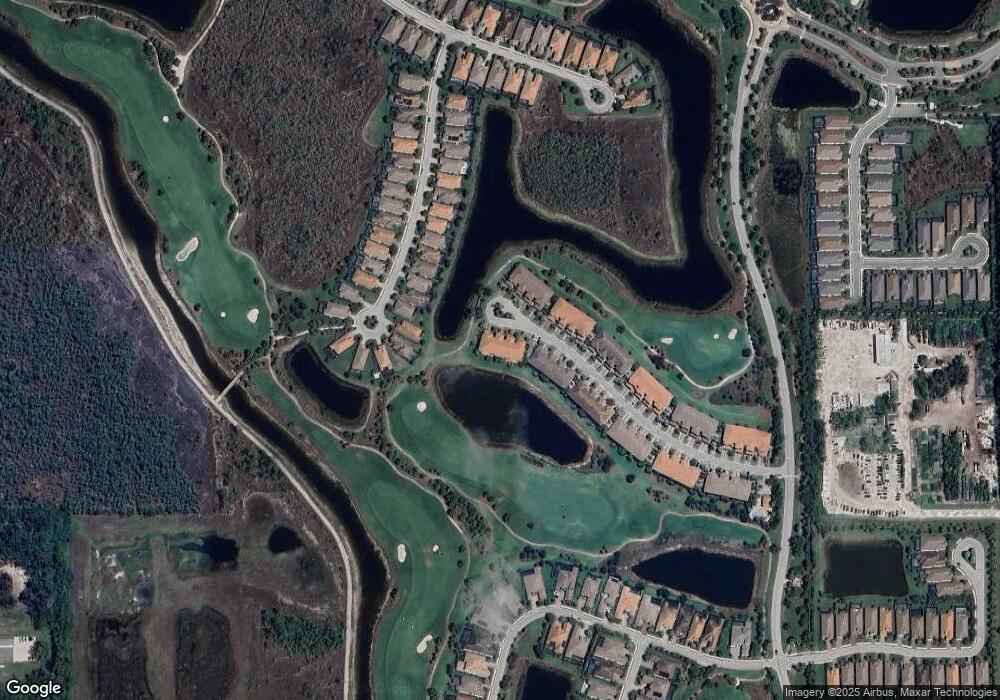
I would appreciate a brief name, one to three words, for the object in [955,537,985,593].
roundabout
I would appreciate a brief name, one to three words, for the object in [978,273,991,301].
house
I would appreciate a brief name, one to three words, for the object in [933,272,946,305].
house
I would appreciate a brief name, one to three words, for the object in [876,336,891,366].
building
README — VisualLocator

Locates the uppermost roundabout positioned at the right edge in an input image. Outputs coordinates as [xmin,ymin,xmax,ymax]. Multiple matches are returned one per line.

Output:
[952,234,989,268]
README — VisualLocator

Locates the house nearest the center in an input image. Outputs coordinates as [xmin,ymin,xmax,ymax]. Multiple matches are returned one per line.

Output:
[479,330,526,363]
